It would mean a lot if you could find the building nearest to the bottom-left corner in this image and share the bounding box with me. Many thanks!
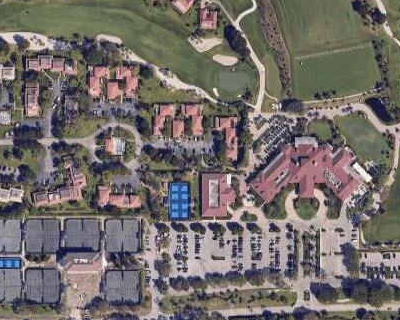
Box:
[57,250,103,272]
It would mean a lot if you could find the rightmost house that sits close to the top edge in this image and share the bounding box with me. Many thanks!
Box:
[199,8,218,27]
